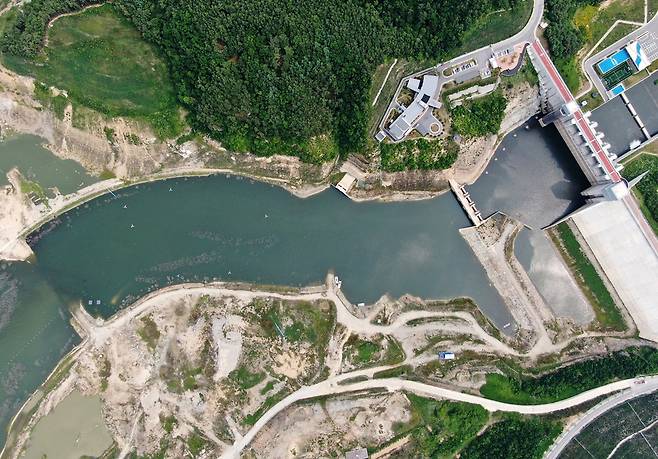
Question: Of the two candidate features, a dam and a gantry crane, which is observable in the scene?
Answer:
dam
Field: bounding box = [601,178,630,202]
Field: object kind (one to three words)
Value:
building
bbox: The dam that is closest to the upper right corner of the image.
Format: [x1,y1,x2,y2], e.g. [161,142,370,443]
[528,37,623,190]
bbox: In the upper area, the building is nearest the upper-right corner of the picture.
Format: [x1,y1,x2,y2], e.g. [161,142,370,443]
[622,40,652,73]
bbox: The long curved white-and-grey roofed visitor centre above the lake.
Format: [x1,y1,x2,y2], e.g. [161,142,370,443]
[384,75,442,143]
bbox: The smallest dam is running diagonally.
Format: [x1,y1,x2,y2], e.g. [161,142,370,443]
[449,178,484,228]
